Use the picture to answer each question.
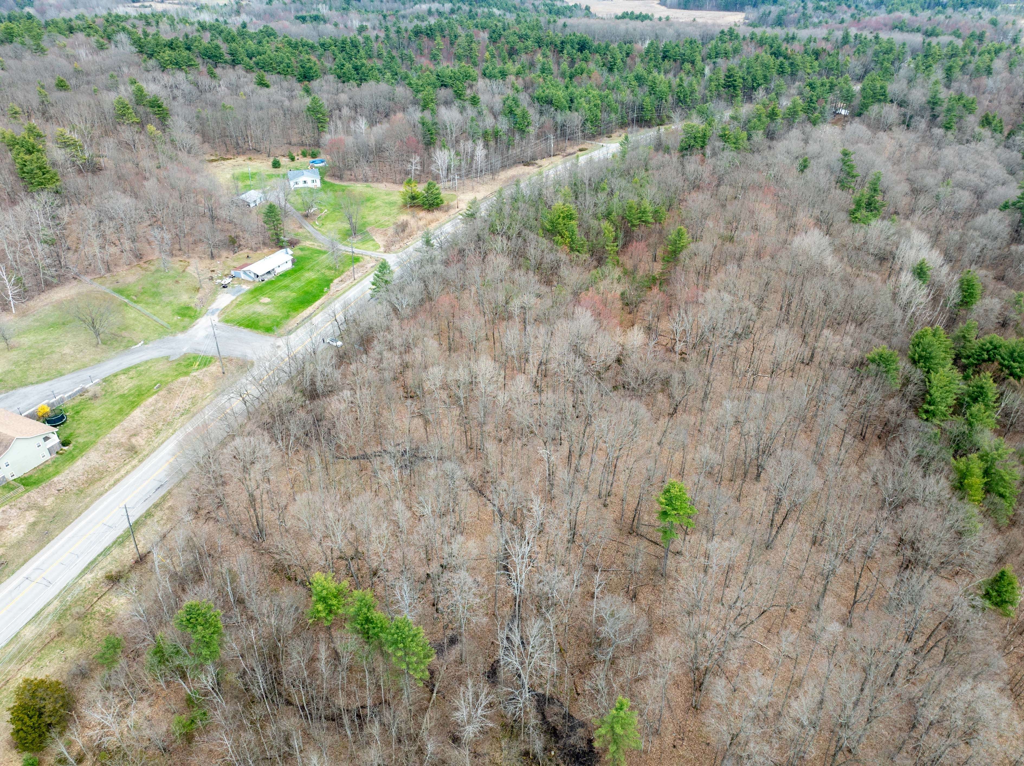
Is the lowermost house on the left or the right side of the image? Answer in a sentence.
It is on the left.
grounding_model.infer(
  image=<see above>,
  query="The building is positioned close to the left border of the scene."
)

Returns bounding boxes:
[0,408,65,481]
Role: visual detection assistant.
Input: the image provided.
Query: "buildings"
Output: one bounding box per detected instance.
[229,191,267,208]
[232,252,297,282]
[285,170,322,187]
[0,408,65,481]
